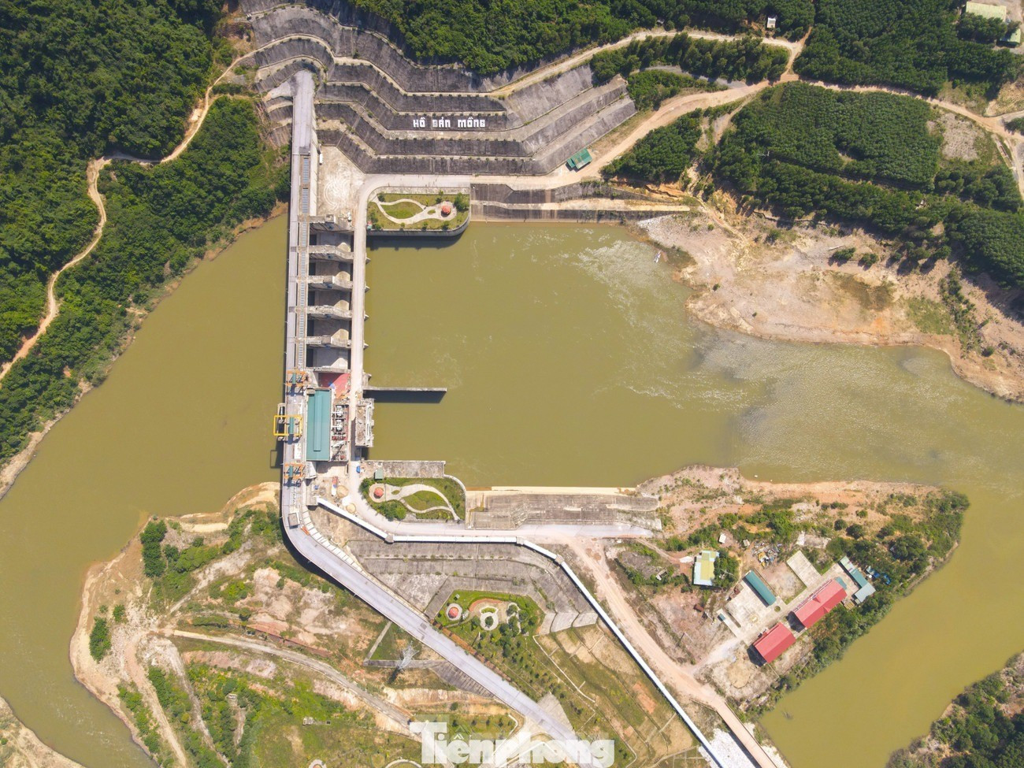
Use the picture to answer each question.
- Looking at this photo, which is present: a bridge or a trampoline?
bridge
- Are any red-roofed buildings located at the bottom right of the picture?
Yes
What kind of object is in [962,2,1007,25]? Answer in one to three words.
shed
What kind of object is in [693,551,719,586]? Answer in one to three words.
house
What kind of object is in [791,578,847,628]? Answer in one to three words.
building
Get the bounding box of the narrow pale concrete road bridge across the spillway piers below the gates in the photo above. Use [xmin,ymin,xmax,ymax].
[350,230,370,370]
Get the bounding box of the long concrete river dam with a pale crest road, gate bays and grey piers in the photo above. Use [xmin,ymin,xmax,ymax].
[266,71,616,768]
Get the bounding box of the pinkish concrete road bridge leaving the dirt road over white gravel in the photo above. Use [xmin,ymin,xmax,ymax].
[713,701,775,768]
